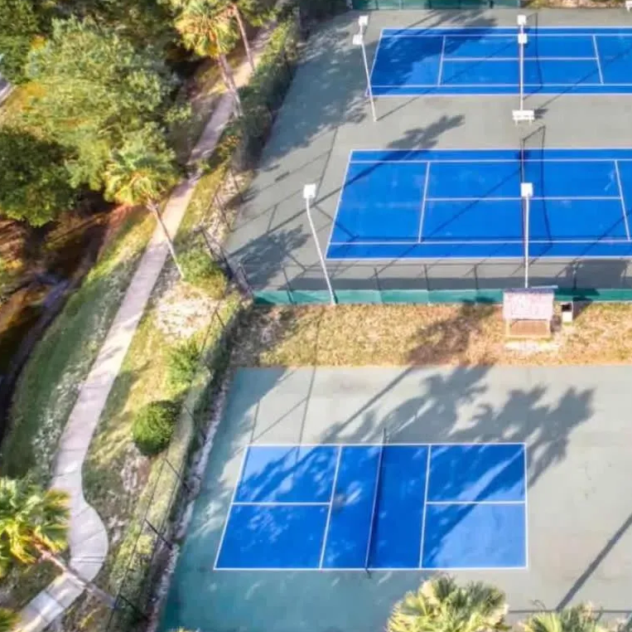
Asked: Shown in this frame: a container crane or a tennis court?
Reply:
tennis court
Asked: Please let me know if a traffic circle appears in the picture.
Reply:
No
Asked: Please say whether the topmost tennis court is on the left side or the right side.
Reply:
right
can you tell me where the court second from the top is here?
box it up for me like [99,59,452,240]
[325,128,632,259]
